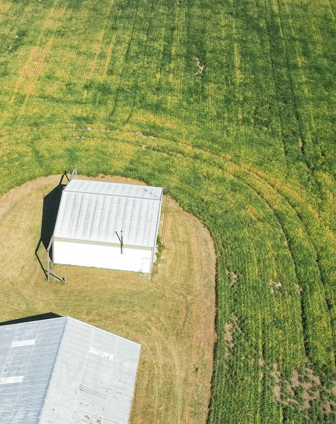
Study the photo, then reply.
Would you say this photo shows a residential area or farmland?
farmland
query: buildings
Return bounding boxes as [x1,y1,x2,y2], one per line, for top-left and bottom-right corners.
[52,179,165,274]
[0,317,140,424]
